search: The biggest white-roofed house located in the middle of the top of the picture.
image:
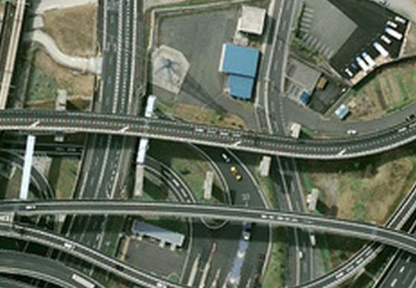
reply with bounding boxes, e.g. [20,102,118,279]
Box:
[239,6,265,35]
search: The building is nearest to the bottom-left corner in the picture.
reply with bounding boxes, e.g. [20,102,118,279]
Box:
[132,221,185,250]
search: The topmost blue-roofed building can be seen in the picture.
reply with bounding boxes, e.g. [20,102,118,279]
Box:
[221,44,260,78]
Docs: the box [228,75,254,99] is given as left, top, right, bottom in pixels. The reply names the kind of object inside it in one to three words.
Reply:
building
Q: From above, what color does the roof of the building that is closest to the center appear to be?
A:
blue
